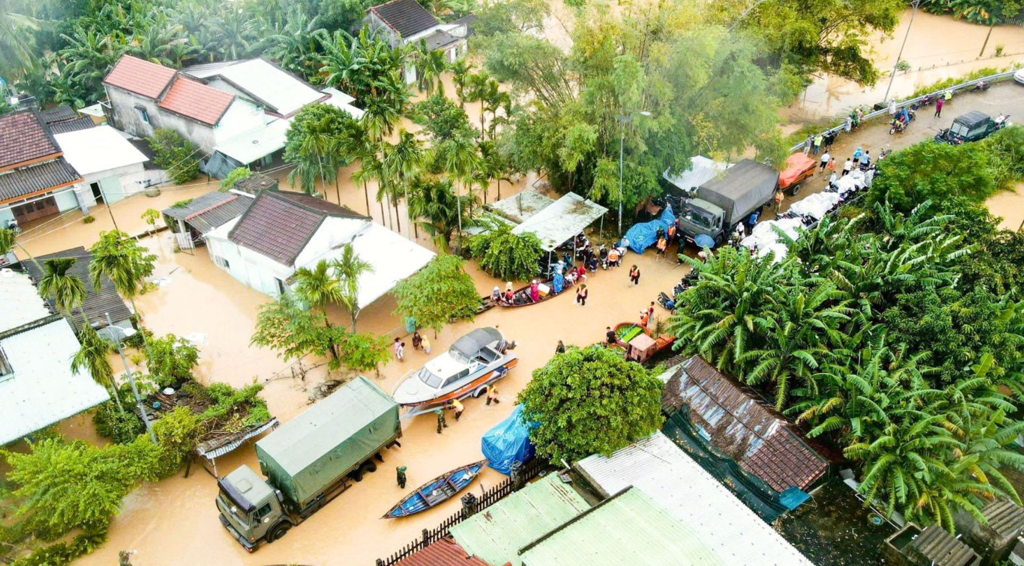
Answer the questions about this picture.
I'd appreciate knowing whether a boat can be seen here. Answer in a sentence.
Yes, a boat can be made out from above.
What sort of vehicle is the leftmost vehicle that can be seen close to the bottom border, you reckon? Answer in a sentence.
The leftmost vehicle that can be seen close to the bottom border can be classified as a truck.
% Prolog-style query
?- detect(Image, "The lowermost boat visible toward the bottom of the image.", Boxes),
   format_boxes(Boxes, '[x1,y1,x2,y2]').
[378,452,488,520]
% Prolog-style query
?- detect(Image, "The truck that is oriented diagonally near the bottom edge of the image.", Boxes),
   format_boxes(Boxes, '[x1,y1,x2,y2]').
[214,379,407,563]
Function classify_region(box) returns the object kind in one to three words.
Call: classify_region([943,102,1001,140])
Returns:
car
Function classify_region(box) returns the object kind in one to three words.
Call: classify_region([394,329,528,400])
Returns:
boat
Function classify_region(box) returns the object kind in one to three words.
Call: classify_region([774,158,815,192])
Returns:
trailer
